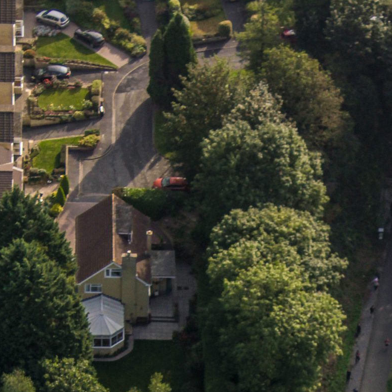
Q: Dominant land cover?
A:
trees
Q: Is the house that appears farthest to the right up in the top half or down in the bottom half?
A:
bottom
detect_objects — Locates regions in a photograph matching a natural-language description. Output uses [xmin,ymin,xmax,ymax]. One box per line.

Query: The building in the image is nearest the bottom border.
[74,199,181,344]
